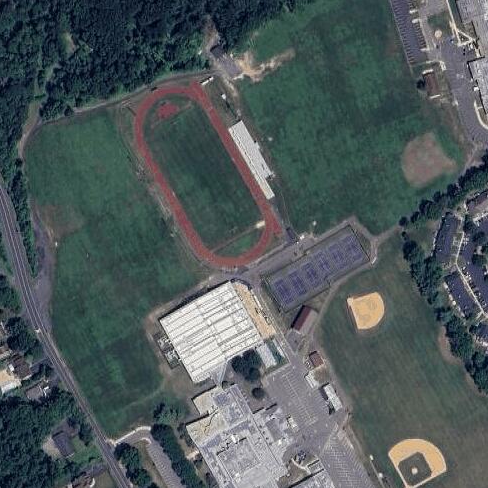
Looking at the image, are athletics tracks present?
Yes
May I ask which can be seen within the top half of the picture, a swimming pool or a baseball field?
baseball field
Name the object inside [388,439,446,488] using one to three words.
baseball field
